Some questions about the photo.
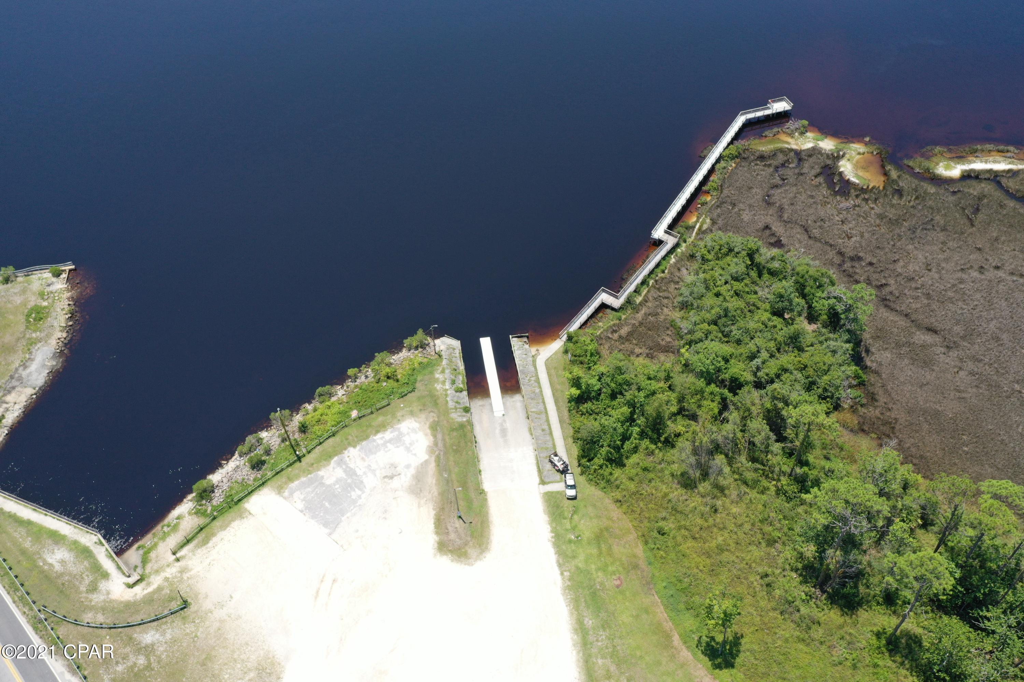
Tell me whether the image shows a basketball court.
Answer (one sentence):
No, there's no basketball court here.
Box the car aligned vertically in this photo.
[563,473,577,501]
